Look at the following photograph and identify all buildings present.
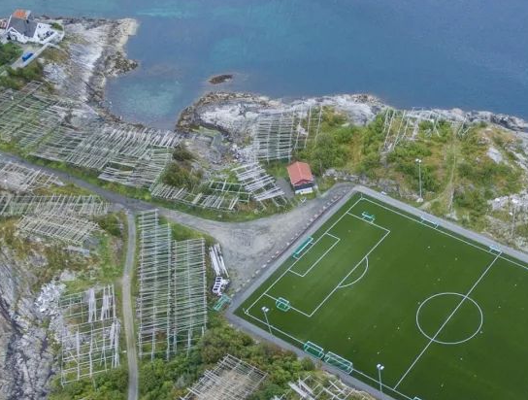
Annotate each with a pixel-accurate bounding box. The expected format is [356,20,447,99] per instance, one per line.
[2,1,51,50]
[288,160,314,192]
